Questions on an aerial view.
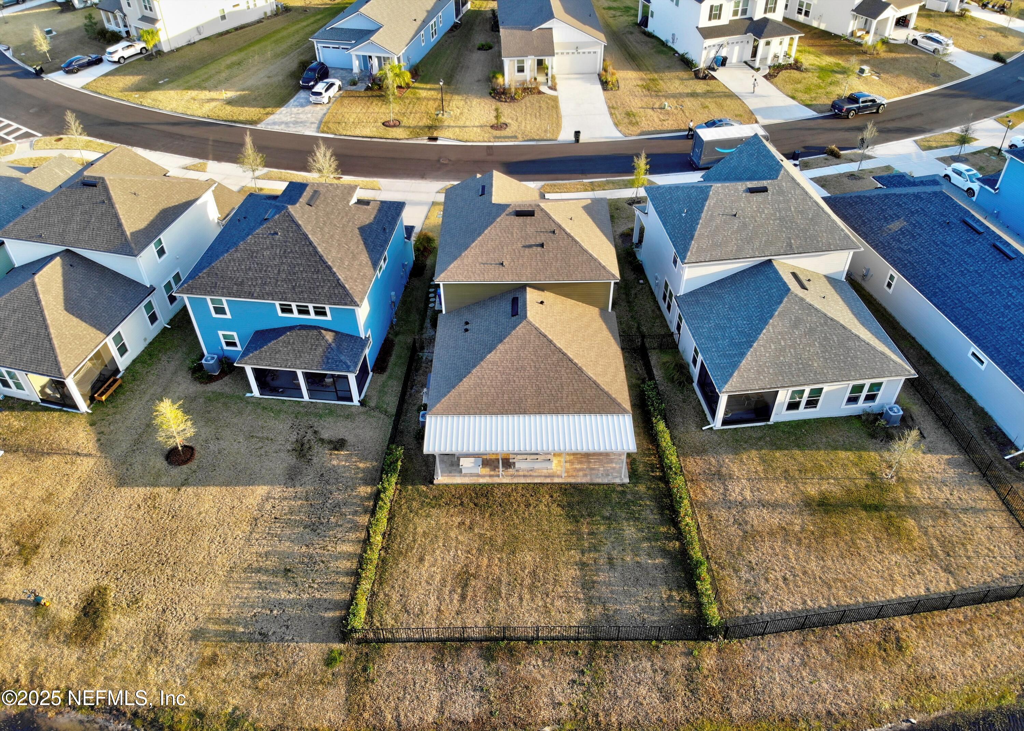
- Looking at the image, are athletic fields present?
No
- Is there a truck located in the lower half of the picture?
No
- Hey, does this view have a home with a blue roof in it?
Yes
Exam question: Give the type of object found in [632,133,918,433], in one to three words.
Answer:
house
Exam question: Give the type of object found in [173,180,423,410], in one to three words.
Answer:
house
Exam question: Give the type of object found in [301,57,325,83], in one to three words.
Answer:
car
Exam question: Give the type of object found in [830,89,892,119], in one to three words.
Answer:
truck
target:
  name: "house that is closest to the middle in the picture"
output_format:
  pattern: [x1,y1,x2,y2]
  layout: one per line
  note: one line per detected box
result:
[426,171,632,418]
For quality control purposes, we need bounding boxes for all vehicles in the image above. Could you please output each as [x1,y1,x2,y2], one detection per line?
[309,80,340,103]
[101,40,146,64]
[985,0,1013,12]
[830,89,892,119]
[942,158,984,193]
[682,119,767,168]
[1003,132,1024,149]
[912,30,958,54]
[301,57,325,83]
[56,53,101,73]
